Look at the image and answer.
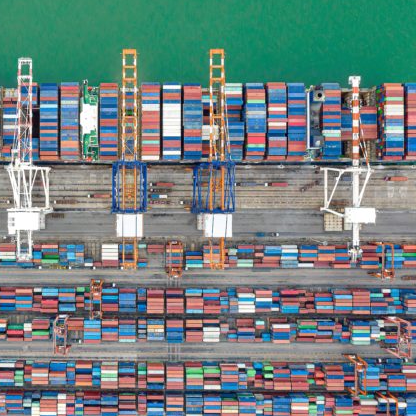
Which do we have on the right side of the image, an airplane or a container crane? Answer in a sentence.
You can see a container crane on the right side of the image.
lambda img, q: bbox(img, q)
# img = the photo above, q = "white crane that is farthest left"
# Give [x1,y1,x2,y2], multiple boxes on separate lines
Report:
[3,56,52,262]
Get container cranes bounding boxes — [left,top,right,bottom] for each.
[111,49,148,270]
[163,236,182,276]
[307,73,377,263]
[361,239,396,280]
[90,275,107,317]
[336,346,368,395]
[185,49,235,270]
[53,311,72,354]
[377,313,412,358]
[3,56,52,262]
